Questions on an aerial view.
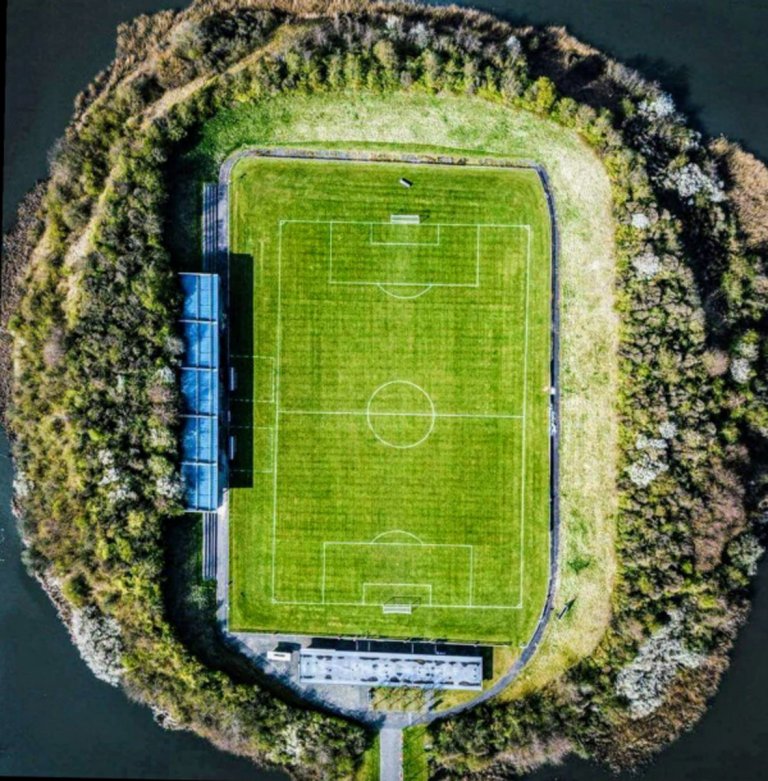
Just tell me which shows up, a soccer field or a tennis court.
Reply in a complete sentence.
Looking from above, you can make out a soccer field.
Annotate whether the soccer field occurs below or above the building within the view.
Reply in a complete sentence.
As seen from overhead, the soccer field falls above the building in the picture.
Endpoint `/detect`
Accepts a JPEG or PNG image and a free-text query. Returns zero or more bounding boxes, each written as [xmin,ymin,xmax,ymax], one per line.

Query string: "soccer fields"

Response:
[230,156,551,644]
